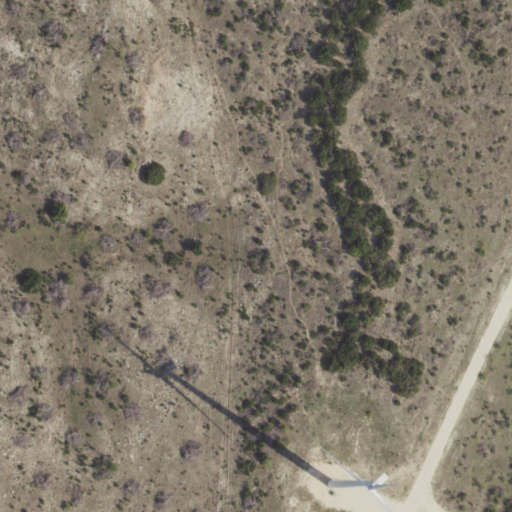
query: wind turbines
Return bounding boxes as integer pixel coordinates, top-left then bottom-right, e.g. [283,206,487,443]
[308,438,404,512]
